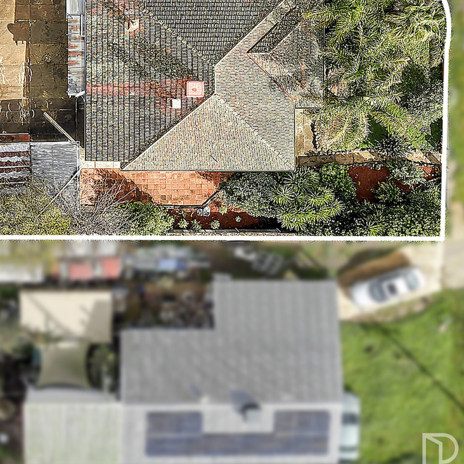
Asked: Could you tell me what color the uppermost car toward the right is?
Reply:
white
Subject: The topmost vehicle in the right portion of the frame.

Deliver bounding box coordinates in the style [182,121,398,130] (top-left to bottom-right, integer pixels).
[349,263,426,311]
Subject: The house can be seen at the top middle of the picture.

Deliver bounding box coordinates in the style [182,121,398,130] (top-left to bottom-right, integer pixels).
[74,0,326,171]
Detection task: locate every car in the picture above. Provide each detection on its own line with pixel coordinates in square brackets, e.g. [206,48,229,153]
[349,263,426,311]
[340,389,362,463]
